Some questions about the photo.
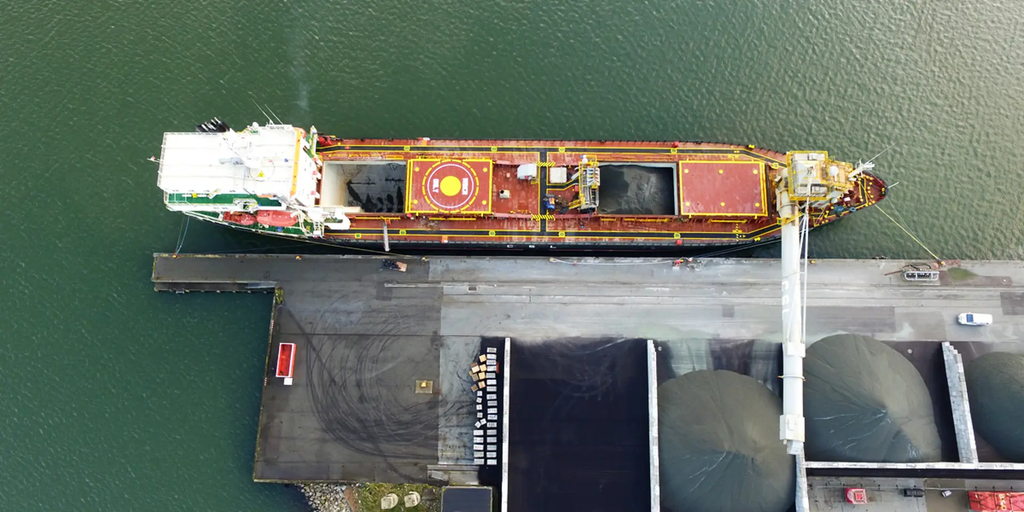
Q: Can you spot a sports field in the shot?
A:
No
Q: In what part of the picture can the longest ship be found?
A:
center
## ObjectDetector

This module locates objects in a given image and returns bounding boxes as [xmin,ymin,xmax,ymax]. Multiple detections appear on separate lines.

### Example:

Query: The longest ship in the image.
[150,101,905,460]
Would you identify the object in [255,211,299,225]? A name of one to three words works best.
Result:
boat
